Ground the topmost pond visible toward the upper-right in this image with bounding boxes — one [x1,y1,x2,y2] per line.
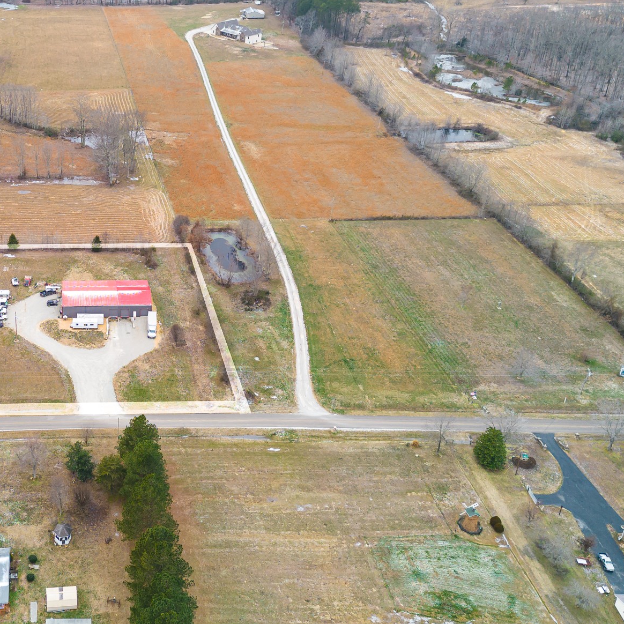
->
[432,53,558,106]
